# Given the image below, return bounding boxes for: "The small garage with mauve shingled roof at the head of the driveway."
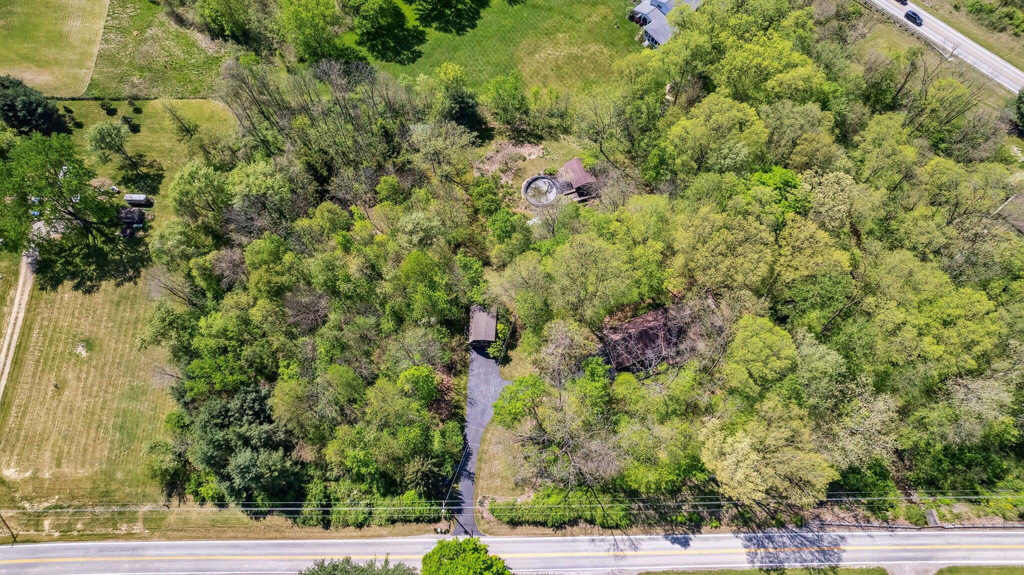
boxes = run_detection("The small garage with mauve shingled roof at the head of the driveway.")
[470,302,496,345]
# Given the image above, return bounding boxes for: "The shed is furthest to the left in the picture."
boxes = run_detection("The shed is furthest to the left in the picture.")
[113,203,145,221]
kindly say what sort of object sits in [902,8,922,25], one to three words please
car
